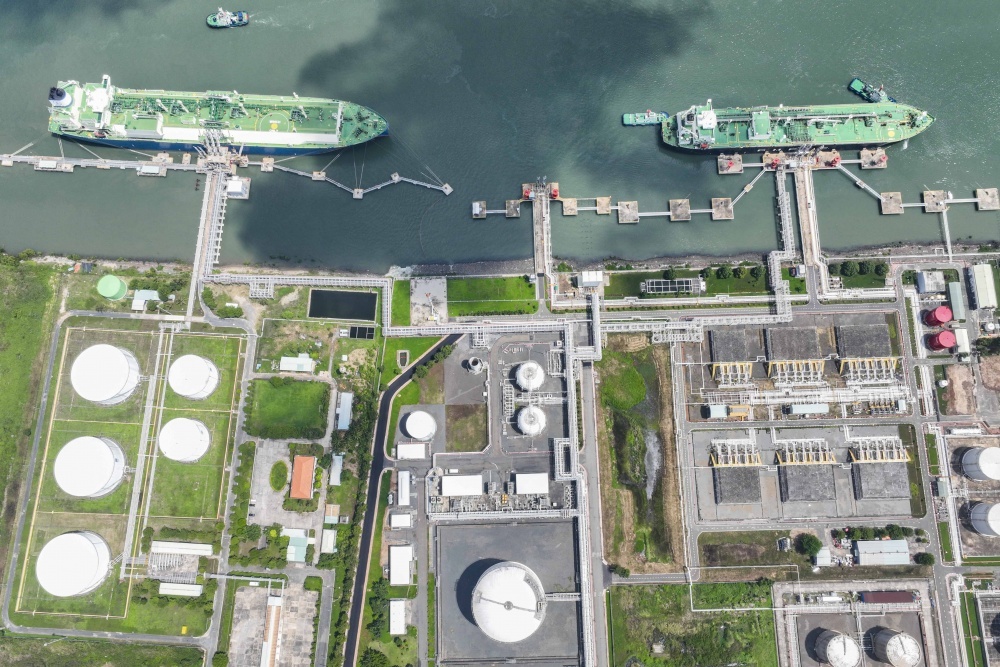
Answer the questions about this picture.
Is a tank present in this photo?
Yes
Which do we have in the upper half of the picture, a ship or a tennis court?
ship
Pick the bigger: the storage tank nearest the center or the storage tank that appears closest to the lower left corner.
the storage tank that appears closest to the lower left corner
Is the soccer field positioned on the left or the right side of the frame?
left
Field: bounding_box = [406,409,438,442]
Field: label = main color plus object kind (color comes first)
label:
white storage tank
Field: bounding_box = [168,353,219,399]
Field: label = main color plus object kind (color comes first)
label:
white storage tank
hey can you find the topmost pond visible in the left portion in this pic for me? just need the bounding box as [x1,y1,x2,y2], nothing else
[307,288,378,321]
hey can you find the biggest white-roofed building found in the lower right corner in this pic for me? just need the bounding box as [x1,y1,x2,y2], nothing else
[852,539,911,564]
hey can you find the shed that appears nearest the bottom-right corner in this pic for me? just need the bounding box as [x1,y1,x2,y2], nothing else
[860,590,915,604]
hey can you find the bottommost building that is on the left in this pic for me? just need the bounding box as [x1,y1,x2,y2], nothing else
[389,600,407,635]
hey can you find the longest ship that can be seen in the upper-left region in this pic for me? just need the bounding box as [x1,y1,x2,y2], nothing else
[47,74,389,158]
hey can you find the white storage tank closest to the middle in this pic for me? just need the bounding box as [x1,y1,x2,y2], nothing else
[516,361,546,394]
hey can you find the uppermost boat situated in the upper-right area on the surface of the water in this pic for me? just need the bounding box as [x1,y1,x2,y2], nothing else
[851,78,894,104]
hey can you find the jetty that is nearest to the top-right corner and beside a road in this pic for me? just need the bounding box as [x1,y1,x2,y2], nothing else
[792,169,823,267]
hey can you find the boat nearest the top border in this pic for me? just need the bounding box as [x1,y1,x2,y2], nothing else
[209,11,248,27]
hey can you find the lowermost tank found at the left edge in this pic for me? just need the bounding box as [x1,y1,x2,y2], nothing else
[34,529,111,599]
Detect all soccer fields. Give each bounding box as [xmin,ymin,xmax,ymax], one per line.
[246,380,329,436]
